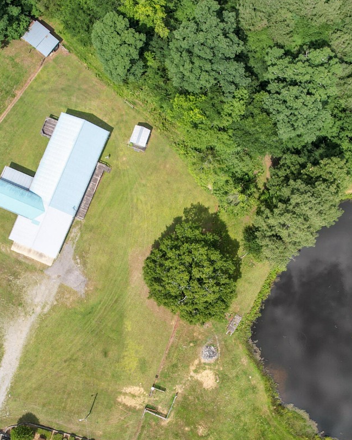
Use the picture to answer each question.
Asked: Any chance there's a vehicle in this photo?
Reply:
No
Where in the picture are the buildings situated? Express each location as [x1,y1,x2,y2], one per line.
[0,112,109,257]
[130,125,151,150]
[22,21,59,59]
